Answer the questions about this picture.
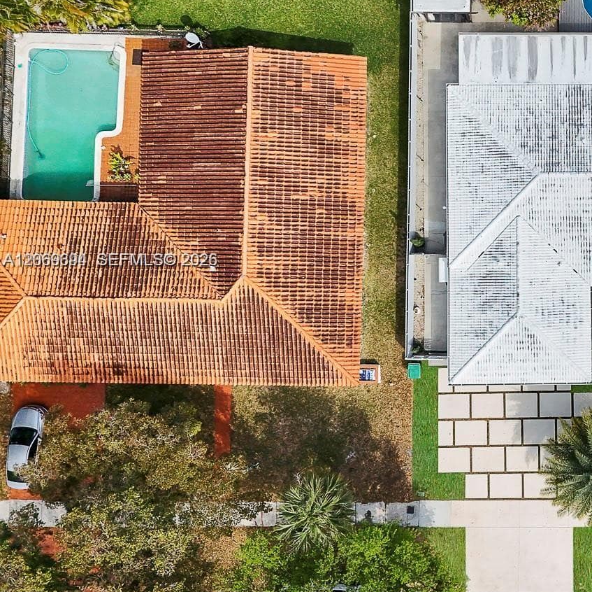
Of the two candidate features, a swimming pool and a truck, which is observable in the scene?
swimming pool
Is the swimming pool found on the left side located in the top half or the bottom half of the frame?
top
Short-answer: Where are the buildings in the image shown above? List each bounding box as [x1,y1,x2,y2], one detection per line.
[445,33,592,388]
[0,45,364,387]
